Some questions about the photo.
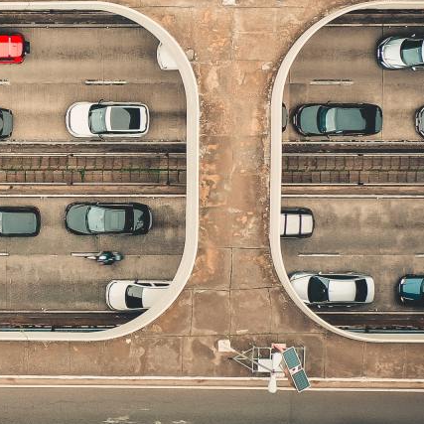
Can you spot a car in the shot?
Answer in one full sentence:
Yes, there's a car here.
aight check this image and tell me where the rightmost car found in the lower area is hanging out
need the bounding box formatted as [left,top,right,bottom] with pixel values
[398,273,424,308]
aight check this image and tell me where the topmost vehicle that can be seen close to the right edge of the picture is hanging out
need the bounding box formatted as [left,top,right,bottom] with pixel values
[377,31,424,73]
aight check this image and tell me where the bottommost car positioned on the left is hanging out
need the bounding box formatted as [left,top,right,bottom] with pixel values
[106,276,176,316]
